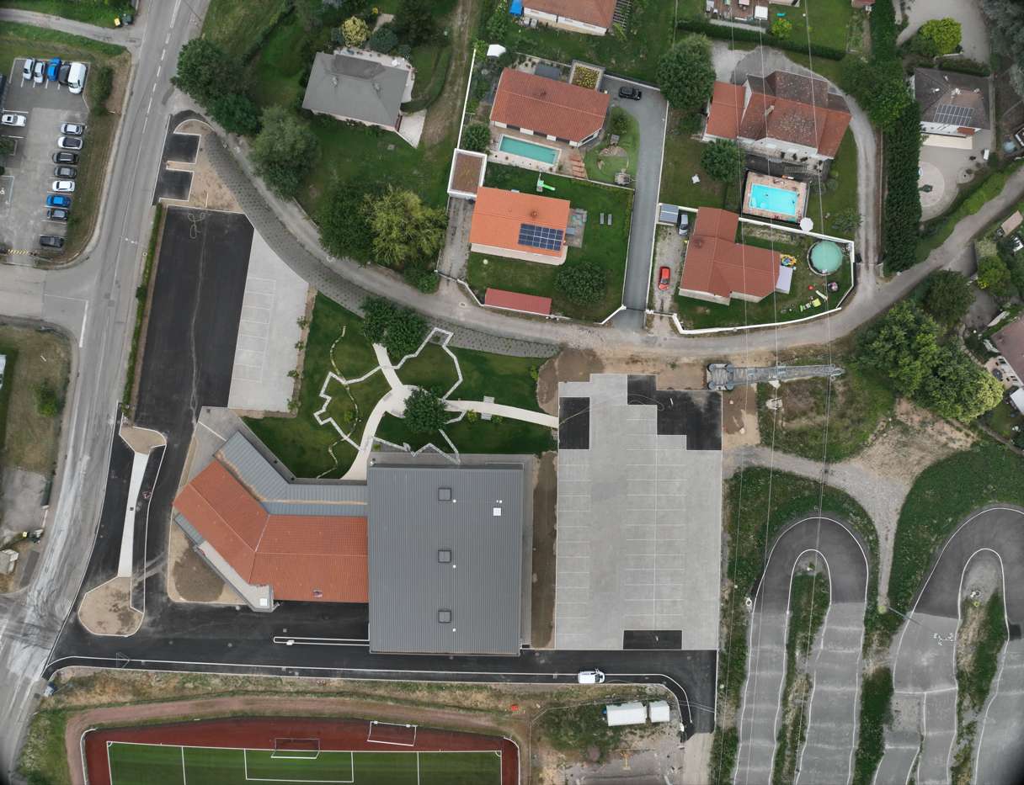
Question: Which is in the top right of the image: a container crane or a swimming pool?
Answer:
swimming pool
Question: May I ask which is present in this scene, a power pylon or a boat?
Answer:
power pylon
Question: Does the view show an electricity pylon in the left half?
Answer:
No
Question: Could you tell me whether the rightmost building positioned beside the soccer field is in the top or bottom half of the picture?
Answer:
bottom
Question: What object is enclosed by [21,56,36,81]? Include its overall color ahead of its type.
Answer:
white car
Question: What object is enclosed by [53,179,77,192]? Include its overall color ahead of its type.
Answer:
white vehicle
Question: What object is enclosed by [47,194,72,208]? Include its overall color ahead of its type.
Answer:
blue car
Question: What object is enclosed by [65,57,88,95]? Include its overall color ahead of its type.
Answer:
white vehicle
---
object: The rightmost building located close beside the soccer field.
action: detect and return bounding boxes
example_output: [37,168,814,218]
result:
[367,460,526,657]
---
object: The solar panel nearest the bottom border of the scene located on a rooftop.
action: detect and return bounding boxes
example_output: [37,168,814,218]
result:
[518,223,563,250]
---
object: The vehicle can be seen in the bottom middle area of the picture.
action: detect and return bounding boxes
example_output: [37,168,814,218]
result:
[578,667,605,686]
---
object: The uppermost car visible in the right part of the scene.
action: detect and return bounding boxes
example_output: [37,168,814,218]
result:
[618,84,641,101]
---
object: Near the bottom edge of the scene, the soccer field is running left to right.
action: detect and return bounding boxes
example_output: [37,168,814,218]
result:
[86,718,519,785]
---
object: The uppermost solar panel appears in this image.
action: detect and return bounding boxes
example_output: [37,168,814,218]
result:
[936,104,974,126]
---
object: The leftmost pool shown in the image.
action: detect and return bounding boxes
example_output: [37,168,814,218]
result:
[498,133,561,166]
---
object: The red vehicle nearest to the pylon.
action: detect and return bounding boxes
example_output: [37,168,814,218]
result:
[658,266,671,290]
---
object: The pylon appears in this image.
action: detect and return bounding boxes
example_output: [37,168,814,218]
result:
[708,355,848,389]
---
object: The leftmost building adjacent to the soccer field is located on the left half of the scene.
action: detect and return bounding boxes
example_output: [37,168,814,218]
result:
[173,431,369,612]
